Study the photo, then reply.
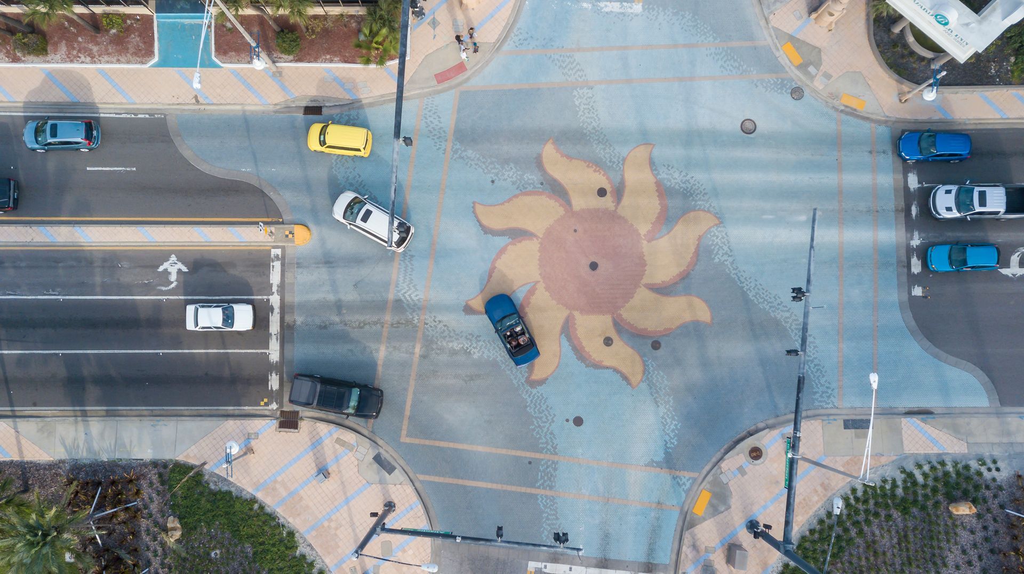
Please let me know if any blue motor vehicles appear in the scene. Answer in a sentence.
Yes, there's a blue motor vehicle down there.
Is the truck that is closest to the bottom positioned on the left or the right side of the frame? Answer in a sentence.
The truck that is closest to the bottom appears in the left half of the scene.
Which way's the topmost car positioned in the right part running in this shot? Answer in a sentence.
From this overhead view, the topmost car positioned in the right part appears to run from left to right.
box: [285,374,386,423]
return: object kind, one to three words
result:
truck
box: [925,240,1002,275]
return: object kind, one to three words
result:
car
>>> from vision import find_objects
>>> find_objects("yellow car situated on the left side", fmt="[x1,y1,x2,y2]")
[308,118,374,157]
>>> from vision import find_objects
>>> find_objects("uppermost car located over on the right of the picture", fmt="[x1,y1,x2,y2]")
[895,127,972,164]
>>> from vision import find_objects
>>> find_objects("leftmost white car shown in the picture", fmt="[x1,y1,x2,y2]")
[186,301,257,334]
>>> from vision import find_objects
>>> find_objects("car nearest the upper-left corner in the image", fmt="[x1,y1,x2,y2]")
[25,117,102,153]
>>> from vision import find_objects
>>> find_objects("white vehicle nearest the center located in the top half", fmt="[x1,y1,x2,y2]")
[336,194,413,251]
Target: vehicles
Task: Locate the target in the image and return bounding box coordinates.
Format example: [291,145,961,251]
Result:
[285,374,386,423]
[926,179,1024,223]
[487,292,539,366]
[308,118,374,157]
[336,194,413,251]
[25,117,102,153]
[413,0,426,22]
[186,301,257,334]
[895,127,972,164]
[925,240,1002,275]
